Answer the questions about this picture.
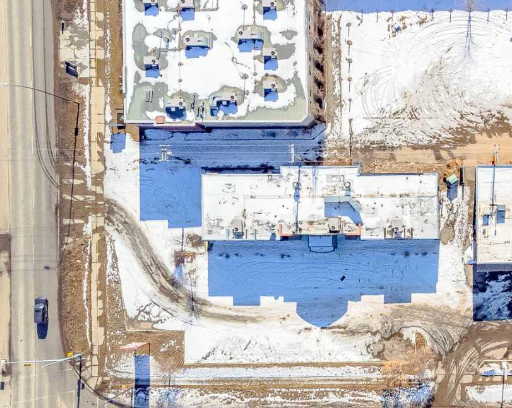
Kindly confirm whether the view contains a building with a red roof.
No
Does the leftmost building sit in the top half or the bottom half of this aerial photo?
top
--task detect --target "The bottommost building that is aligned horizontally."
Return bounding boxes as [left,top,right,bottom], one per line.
[202,166,439,256]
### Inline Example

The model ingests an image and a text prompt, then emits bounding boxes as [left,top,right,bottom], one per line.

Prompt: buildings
[476,164,512,271]
[202,166,439,256]
[122,0,320,137]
